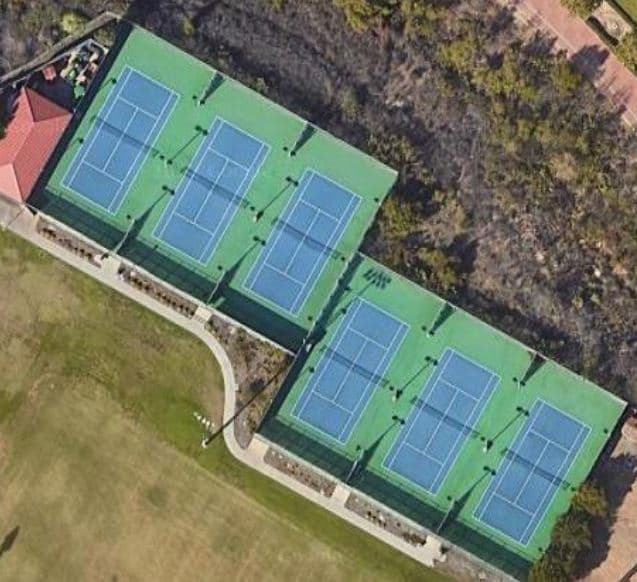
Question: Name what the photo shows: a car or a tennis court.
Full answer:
The one in the frame is a tennis court.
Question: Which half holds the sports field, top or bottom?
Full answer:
You can find the sports field in the bottom half.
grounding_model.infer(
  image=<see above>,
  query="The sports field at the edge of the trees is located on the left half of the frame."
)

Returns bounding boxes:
[0,229,457,582]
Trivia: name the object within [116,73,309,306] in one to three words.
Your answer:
tennis court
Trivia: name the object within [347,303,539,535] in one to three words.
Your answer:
tennis court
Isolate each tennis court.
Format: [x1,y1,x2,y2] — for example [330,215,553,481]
[116,73,309,306]
[437,354,627,582]
[207,123,398,356]
[258,254,447,486]
[29,23,217,256]
[347,303,539,535]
